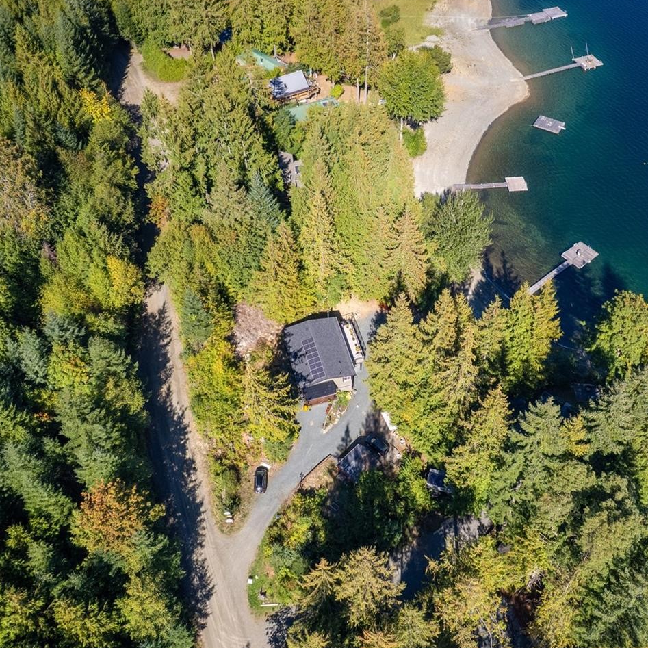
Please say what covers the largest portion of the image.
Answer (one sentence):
For the most part, this view shows trees.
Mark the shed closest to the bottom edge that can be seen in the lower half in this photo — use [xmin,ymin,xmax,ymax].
[337,445,381,489]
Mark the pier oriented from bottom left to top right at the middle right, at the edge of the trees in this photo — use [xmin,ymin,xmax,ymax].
[525,240,599,297]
